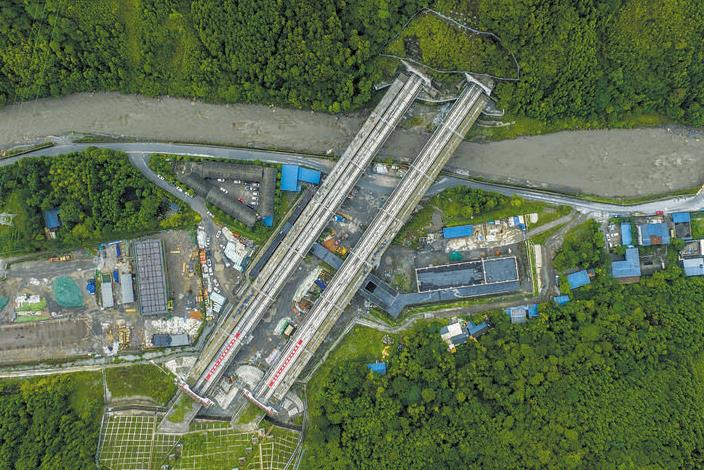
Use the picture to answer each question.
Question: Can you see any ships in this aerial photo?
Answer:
No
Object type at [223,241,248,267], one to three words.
building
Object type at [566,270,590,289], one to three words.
house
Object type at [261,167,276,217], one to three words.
building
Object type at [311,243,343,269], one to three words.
shed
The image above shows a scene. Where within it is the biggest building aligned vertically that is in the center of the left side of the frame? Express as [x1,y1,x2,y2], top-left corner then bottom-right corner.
[134,238,170,316]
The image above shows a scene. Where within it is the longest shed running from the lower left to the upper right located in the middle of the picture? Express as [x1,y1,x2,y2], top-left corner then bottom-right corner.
[250,187,317,278]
